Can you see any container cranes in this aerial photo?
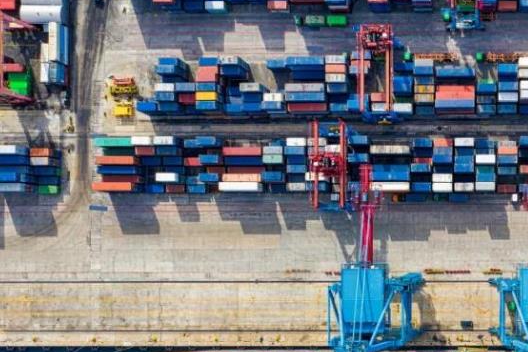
Yes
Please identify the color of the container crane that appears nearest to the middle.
red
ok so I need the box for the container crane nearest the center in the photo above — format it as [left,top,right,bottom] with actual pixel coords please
[308,117,362,211]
